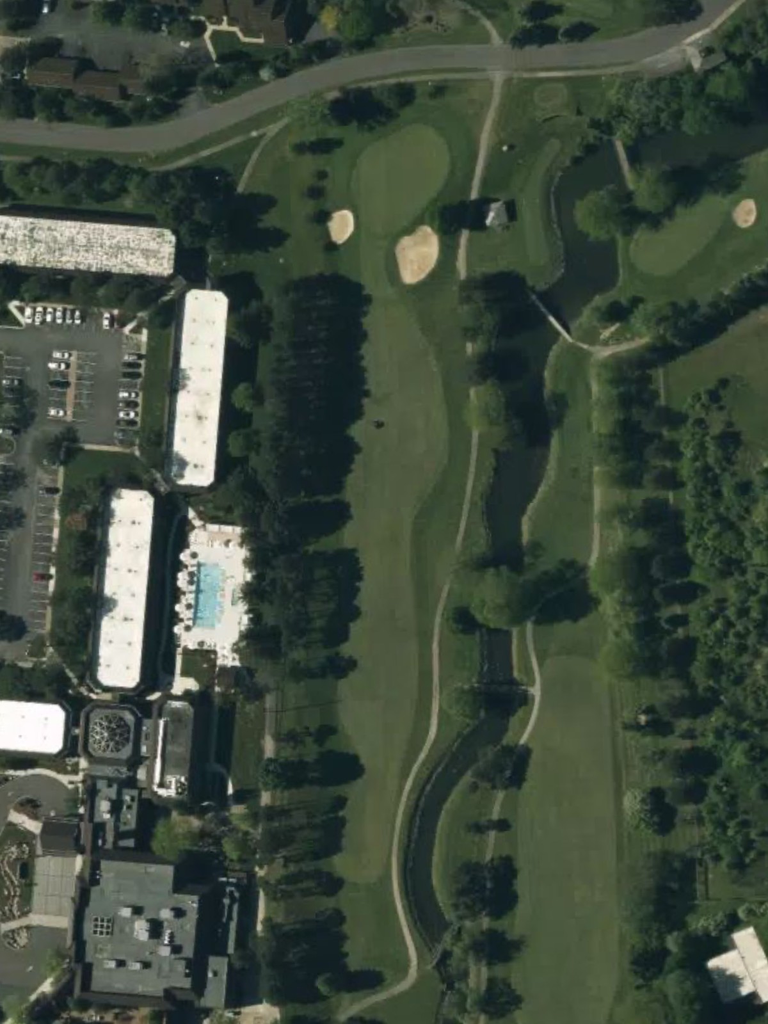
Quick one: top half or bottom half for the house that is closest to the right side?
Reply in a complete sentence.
The bottom half of the photo is where the house that is closest to the right side is.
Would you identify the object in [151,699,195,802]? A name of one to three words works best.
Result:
building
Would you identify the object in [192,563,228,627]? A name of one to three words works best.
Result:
swimming pool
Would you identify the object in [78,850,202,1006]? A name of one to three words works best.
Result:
building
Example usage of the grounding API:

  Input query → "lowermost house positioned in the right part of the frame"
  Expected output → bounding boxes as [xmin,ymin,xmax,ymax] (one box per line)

[707,925,768,1004]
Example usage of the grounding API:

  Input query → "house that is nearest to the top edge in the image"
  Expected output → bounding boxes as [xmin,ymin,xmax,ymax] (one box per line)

[204,0,289,46]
